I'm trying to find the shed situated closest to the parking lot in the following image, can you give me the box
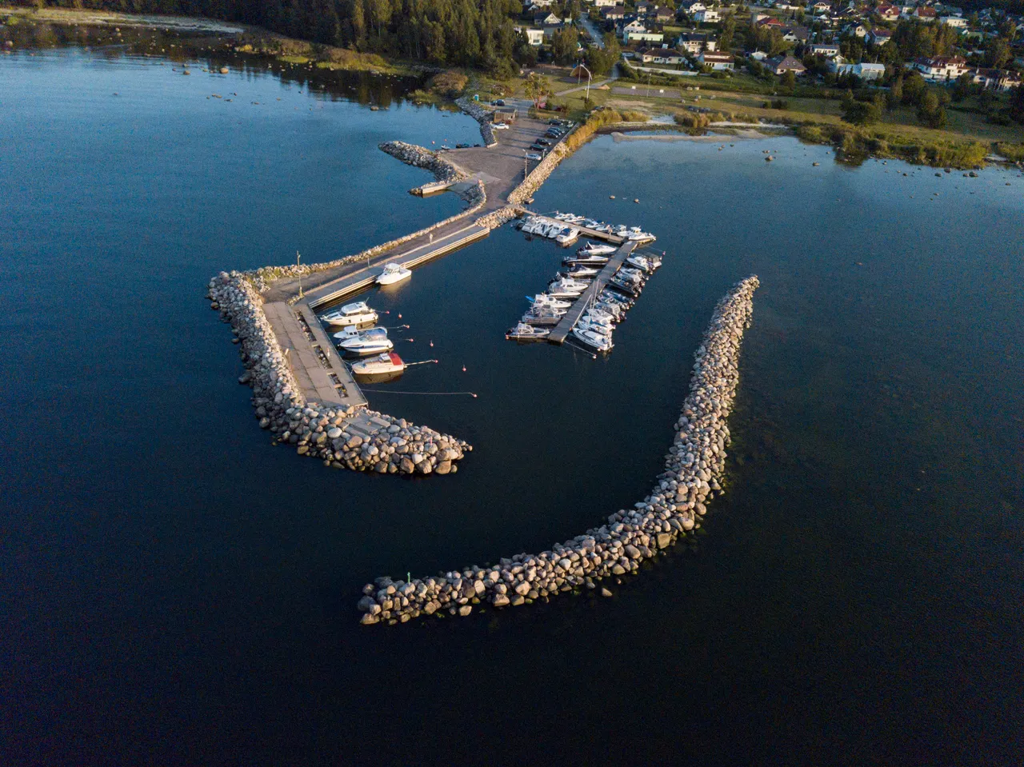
[491,107,517,123]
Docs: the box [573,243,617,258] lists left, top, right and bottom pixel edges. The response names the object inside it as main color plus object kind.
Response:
white boat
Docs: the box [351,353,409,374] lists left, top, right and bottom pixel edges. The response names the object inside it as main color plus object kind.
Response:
white boat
